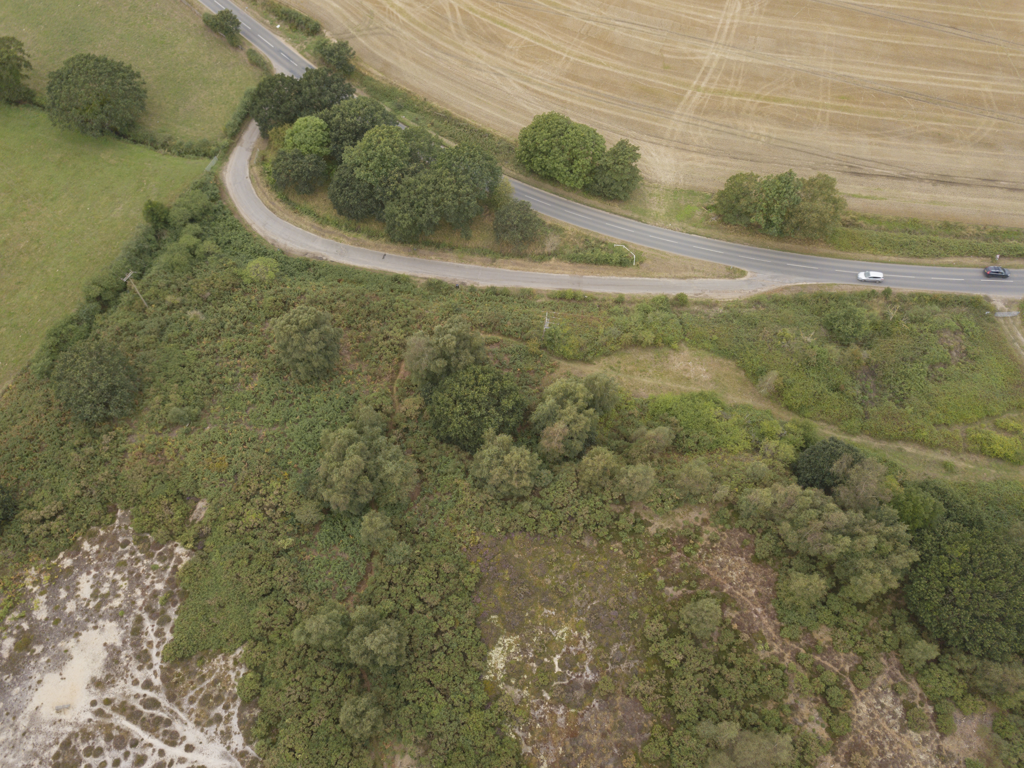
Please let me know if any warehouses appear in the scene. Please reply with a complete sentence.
No, there appears to be no warehouse in this shot.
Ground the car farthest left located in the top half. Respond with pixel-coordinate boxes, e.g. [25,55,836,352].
[859,270,885,283]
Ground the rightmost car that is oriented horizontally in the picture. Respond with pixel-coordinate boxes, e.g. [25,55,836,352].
[984,266,1011,279]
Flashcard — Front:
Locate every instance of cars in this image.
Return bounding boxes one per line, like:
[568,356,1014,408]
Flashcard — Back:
[859,270,885,283]
[984,266,1011,279]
